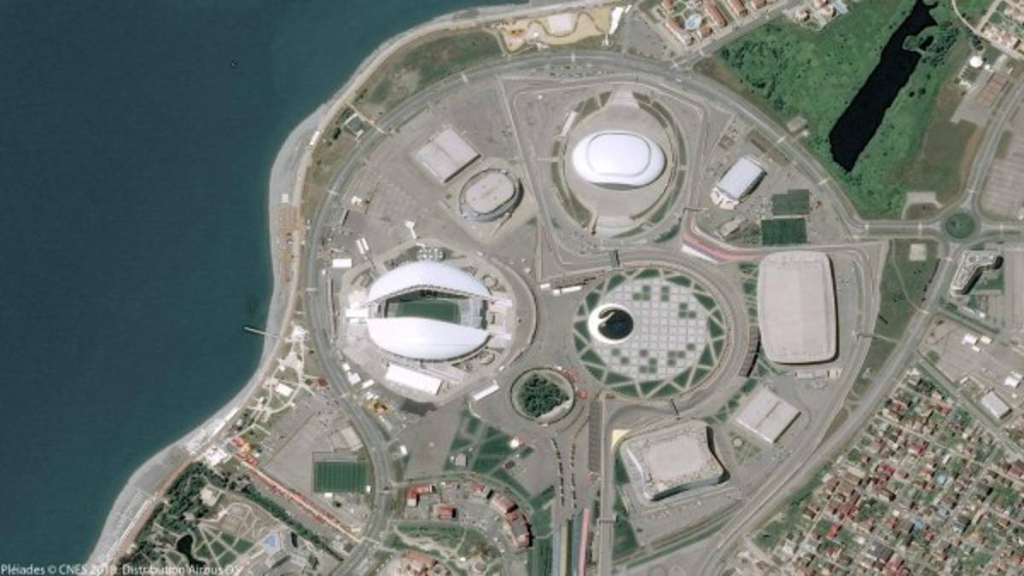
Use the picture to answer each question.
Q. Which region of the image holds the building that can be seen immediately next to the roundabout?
right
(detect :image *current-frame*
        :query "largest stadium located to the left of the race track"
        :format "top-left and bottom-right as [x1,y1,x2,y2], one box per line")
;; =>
[346,261,512,362]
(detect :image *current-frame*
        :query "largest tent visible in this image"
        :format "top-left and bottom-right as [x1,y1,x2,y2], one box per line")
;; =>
[386,365,443,396]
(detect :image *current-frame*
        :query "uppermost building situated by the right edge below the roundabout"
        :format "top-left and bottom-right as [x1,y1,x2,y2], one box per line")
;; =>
[950,250,999,297]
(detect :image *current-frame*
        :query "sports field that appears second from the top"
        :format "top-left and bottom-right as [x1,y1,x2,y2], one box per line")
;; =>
[762,218,807,245]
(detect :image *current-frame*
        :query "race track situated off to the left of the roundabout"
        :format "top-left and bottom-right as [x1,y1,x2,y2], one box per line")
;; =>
[499,69,873,576]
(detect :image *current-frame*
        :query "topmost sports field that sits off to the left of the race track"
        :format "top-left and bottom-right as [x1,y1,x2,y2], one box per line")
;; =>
[395,299,461,324]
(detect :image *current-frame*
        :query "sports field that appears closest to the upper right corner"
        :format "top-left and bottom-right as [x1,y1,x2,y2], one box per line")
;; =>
[773,189,809,215]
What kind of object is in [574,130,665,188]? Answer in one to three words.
stadium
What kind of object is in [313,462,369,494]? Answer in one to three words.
sports field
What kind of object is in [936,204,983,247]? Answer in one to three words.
roundabout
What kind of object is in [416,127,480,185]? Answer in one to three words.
building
